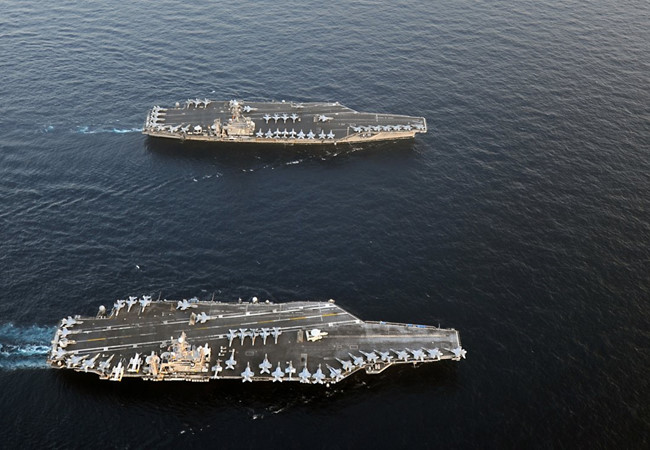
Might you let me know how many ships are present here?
two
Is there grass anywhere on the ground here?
No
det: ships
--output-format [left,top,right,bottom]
[143,95,426,146]
[46,296,461,387]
